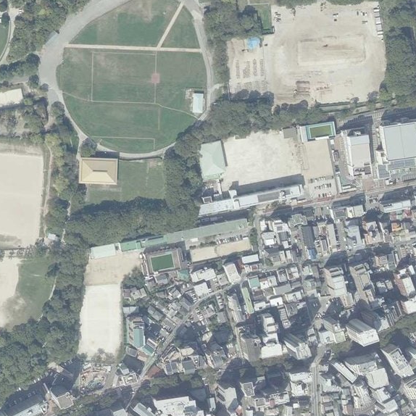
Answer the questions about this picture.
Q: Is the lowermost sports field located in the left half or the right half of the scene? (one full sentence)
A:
The lowermost sports field appears in the left half of the scene.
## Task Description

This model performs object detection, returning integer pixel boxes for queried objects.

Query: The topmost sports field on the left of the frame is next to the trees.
[57,0,208,153]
